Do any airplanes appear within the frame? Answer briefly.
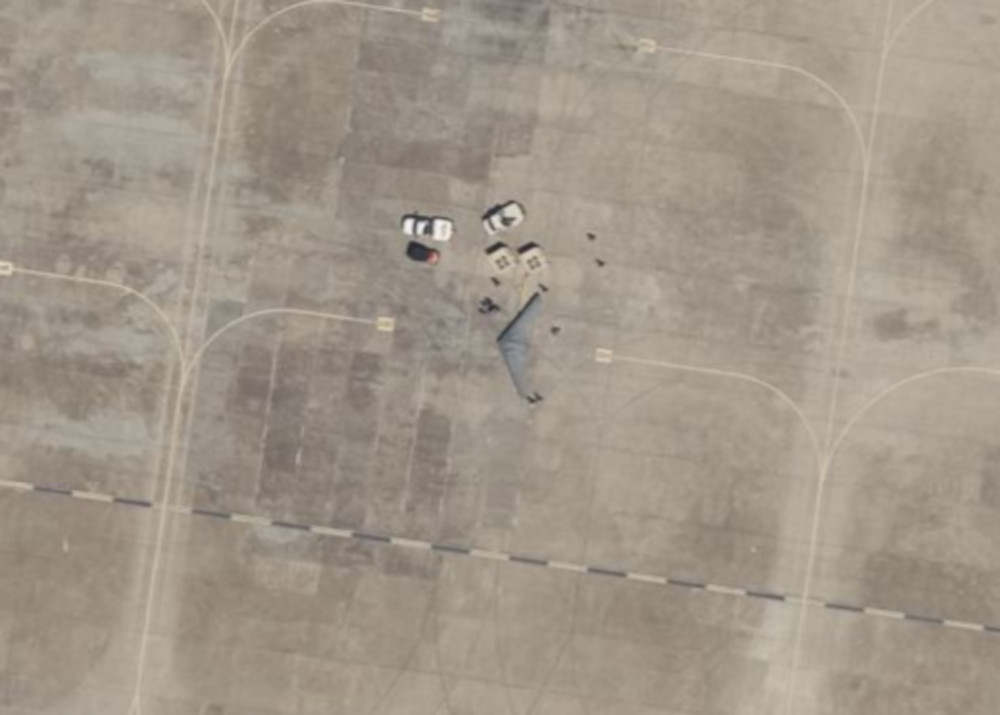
Yes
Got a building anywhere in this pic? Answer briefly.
No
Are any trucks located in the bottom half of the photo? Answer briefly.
No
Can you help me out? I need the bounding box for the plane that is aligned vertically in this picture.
[498,293,545,400]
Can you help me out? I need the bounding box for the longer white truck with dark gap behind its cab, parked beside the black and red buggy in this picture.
[401,217,452,240]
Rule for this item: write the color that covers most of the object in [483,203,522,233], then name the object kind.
white truck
